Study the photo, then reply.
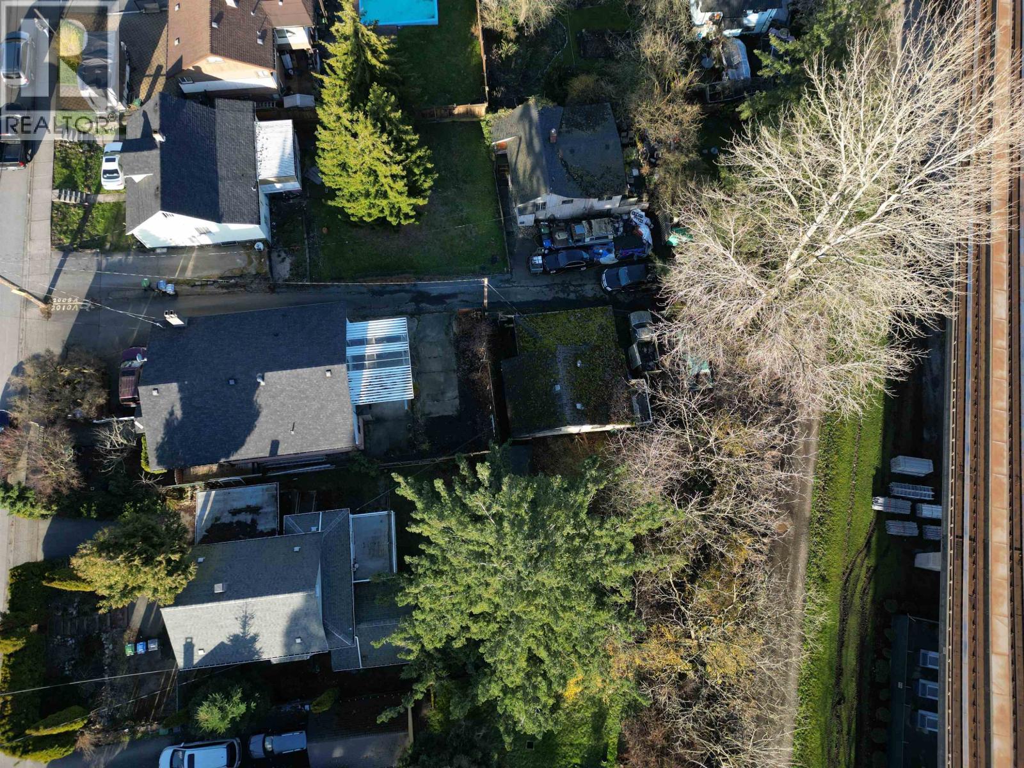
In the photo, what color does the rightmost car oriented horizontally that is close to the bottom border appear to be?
blue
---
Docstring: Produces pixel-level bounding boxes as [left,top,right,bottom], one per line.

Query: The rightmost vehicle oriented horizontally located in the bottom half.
[242,726,309,763]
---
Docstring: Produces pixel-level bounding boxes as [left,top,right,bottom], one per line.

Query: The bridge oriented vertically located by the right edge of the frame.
[928,0,1024,768]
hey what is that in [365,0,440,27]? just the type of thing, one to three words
swimming pool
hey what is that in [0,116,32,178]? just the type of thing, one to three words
truck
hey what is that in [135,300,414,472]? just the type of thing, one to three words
house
